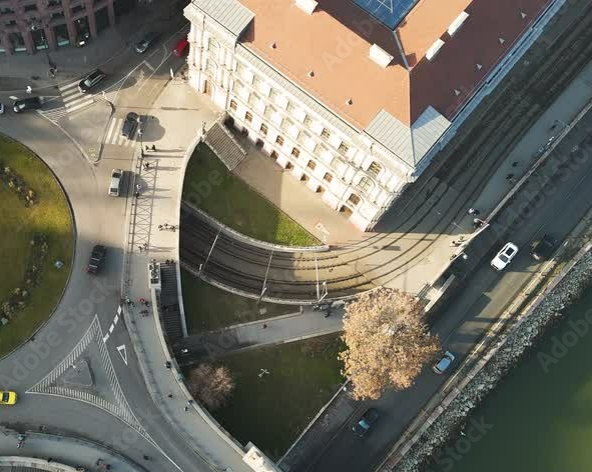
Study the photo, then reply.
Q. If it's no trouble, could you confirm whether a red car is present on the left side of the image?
Yes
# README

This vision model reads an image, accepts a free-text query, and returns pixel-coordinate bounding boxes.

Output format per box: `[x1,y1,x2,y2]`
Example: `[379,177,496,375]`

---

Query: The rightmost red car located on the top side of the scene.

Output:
[172,32,190,55]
